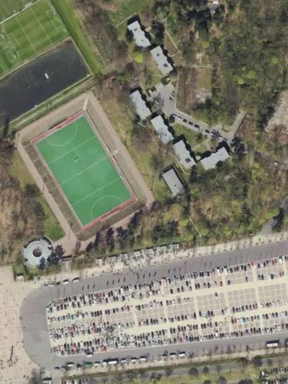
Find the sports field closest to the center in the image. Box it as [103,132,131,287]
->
[31,111,138,230]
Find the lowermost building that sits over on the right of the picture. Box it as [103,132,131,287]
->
[162,168,184,196]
